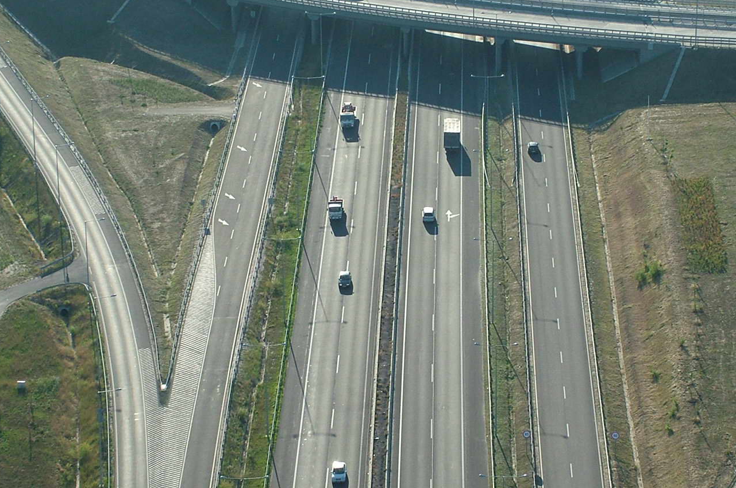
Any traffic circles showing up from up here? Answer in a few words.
No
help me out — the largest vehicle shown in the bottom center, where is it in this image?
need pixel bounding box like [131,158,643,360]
[331,460,348,481]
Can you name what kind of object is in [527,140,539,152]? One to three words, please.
vehicle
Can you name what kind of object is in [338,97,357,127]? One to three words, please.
vehicle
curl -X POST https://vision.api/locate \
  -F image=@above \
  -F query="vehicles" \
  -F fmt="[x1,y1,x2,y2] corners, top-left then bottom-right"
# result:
[331,460,348,481]
[422,208,435,220]
[527,140,539,152]
[338,268,352,285]
[338,97,357,127]
[326,185,346,217]
[443,119,461,148]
